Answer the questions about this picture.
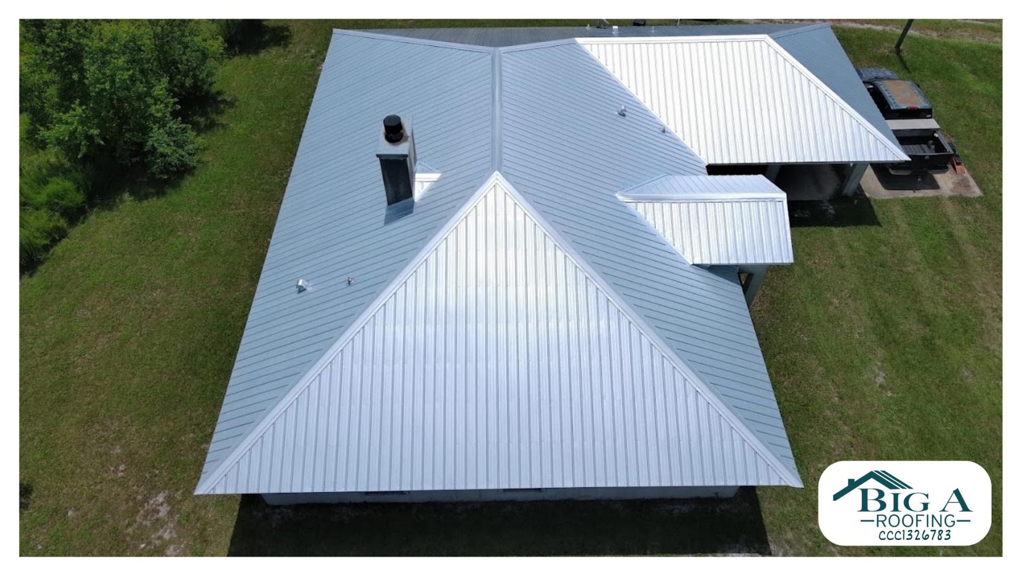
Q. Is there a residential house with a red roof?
No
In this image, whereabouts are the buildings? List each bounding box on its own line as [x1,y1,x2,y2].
[192,22,911,505]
